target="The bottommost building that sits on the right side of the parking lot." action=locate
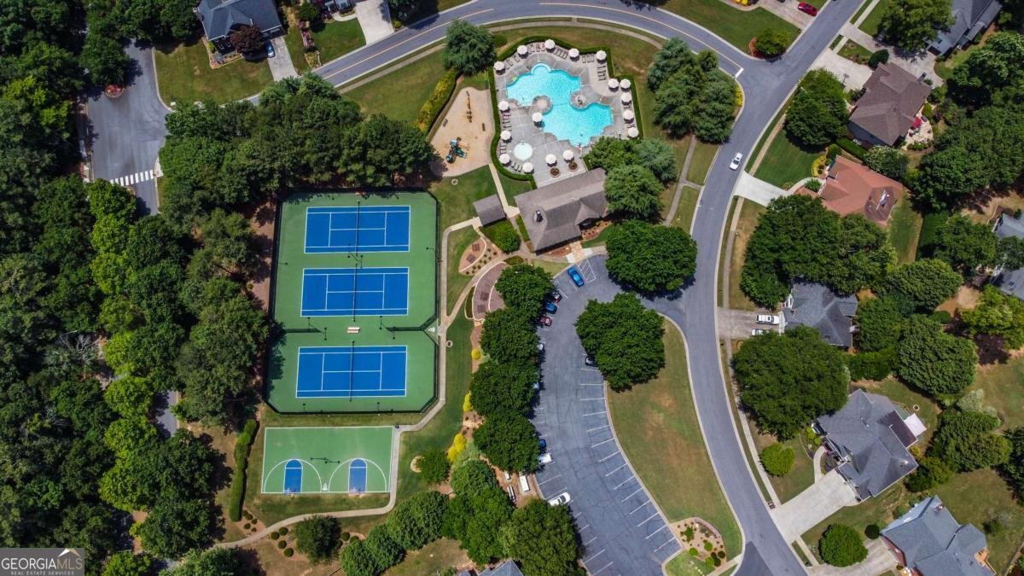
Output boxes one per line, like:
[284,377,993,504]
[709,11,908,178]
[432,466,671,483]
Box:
[877,496,997,576]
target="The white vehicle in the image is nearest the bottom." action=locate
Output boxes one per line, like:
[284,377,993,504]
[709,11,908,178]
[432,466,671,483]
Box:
[548,491,571,507]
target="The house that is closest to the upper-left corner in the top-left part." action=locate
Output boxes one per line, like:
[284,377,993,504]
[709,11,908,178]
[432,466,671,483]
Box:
[195,0,284,55]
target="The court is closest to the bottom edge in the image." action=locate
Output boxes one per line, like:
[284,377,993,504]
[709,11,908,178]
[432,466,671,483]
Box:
[260,426,393,494]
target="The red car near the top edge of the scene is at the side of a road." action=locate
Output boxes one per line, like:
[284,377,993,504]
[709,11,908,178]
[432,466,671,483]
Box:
[799,1,818,14]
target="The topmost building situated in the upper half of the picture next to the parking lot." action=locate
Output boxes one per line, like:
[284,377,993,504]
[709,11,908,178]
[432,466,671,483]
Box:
[515,171,611,254]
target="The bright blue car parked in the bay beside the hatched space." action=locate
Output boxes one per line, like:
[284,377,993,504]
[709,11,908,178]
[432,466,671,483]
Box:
[568,267,585,287]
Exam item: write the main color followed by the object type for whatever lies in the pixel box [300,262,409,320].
blue tennis court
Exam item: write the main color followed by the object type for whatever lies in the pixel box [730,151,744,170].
white car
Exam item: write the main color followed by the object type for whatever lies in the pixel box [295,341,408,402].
blue tennis court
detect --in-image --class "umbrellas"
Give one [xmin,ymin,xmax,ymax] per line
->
[620,79,631,90]
[621,93,632,104]
[622,110,634,121]
[546,155,557,166]
[498,154,510,165]
[522,162,533,173]
[627,127,639,138]
[563,150,574,161]
[544,40,555,51]
[595,50,606,61]
[517,45,528,56]
[608,78,619,90]
[501,131,512,142]
[498,101,509,111]
[910,117,923,129]
[494,62,505,73]
[532,112,543,123]
[568,48,579,59]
